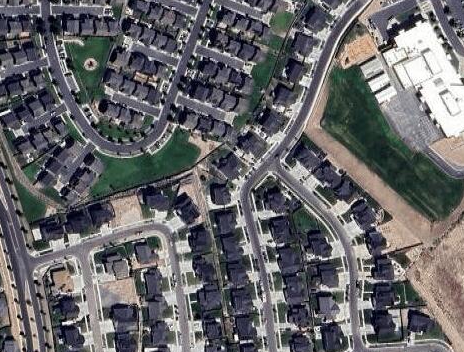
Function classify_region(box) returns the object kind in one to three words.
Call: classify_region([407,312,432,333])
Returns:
house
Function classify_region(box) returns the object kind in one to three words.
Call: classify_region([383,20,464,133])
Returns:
building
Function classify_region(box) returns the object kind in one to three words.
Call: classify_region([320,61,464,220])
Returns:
sports field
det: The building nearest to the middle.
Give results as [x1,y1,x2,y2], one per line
[219,155,242,182]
